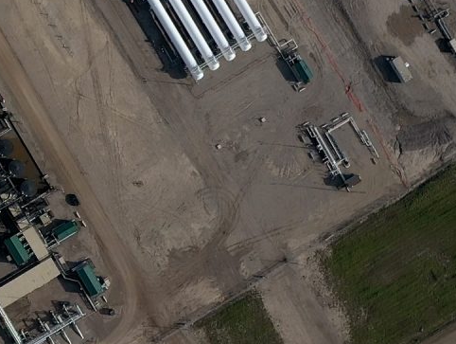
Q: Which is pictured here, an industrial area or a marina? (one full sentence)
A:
It's an industrial area.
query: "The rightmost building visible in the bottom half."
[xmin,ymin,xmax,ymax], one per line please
[71,261,105,296]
